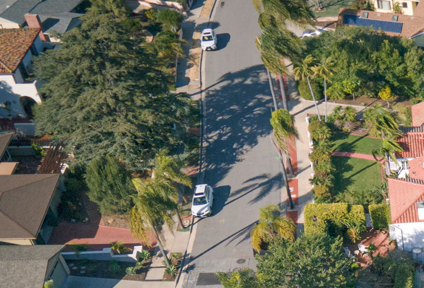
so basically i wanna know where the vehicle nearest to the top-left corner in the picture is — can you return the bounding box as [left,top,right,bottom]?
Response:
[198,30,216,48]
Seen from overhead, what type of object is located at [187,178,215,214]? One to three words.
car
